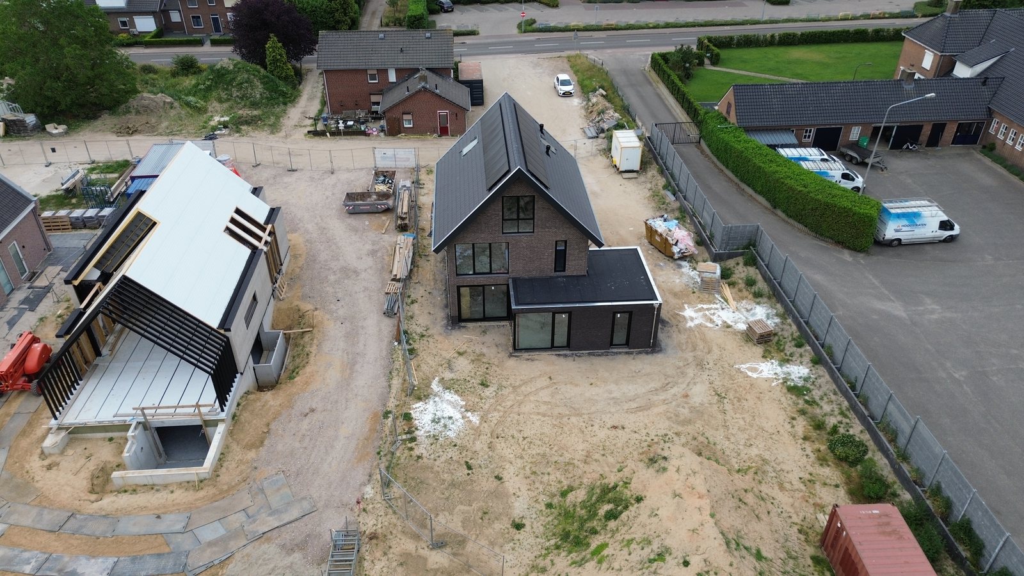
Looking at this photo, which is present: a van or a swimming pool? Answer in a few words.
van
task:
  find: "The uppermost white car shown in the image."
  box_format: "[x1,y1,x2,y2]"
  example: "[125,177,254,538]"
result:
[555,73,575,94]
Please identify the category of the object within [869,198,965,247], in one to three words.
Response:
van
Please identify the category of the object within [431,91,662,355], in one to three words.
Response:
house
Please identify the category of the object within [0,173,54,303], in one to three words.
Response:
house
